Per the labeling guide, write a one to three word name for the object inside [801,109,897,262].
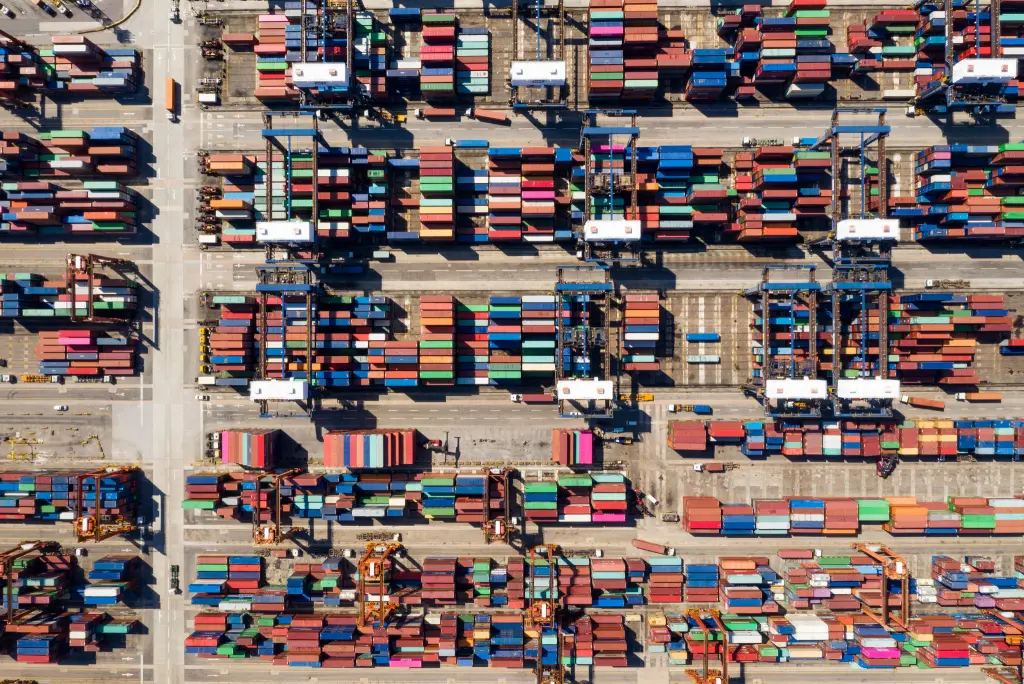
container crane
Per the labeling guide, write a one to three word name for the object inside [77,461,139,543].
crane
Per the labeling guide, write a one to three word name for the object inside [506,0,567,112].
container crane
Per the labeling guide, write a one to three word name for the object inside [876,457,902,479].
work vehicle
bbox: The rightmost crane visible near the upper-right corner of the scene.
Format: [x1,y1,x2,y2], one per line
[906,0,1014,109]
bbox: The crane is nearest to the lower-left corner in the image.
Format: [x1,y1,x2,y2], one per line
[0,534,58,624]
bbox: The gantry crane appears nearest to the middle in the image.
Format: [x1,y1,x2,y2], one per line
[548,266,614,418]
